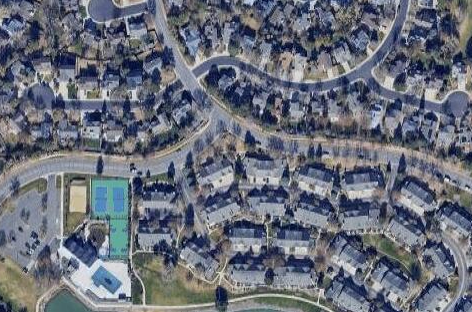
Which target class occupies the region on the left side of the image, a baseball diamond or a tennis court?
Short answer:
tennis court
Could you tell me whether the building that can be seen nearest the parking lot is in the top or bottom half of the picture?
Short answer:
bottom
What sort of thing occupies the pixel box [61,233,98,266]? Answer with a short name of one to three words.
building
